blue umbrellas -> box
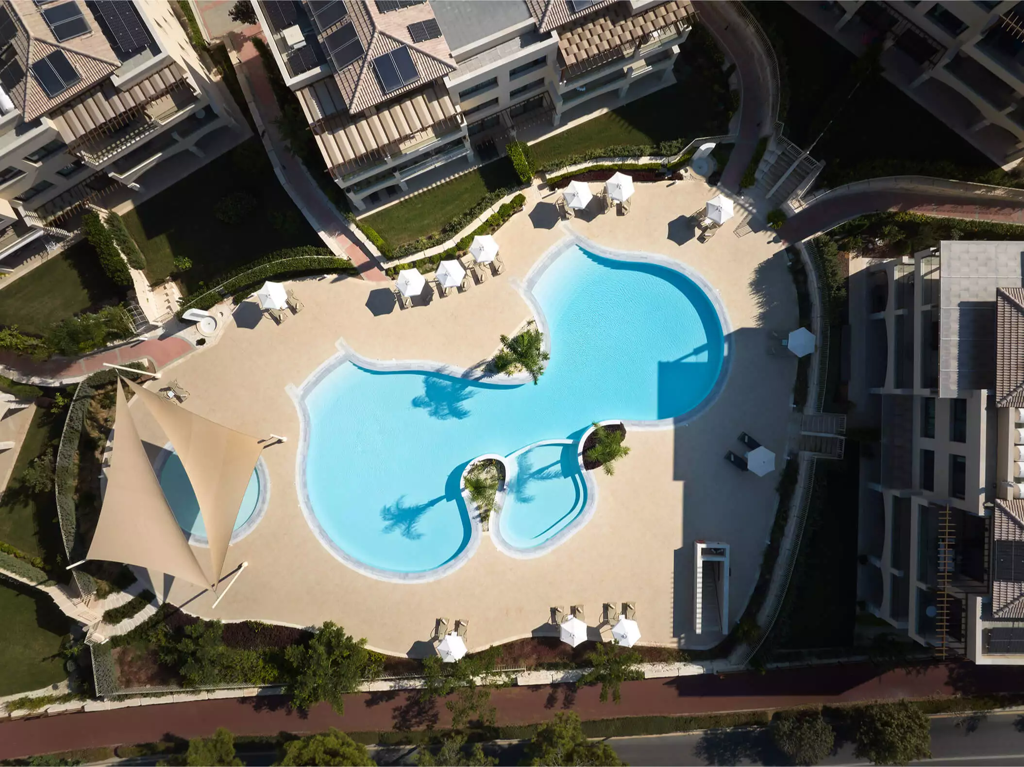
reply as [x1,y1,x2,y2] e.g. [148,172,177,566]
[787,326,815,358]
[746,444,775,477]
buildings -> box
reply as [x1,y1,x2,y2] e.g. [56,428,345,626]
[250,0,701,219]
[785,0,1024,174]
[0,0,254,288]
[854,239,1024,666]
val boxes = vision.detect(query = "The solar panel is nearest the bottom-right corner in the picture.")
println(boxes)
[991,624,1024,652]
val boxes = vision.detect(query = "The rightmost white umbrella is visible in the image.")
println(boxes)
[705,194,733,226]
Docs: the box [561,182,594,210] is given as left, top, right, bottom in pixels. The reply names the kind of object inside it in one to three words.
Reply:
umbrella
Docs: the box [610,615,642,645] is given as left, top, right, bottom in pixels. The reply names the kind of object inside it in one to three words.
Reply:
umbrella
